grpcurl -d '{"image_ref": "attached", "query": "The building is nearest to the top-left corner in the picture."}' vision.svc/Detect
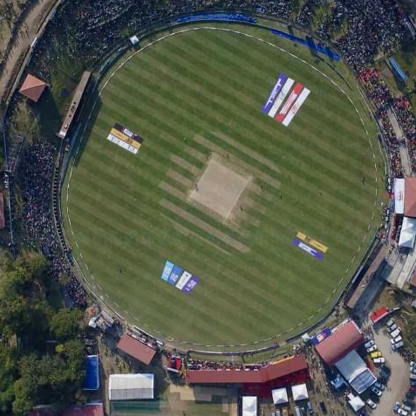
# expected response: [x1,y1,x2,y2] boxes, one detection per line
[19,75,49,101]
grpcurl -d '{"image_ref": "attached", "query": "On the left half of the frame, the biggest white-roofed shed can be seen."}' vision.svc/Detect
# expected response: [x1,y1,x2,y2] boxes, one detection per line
[109,372,154,400]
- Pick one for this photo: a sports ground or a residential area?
sports ground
